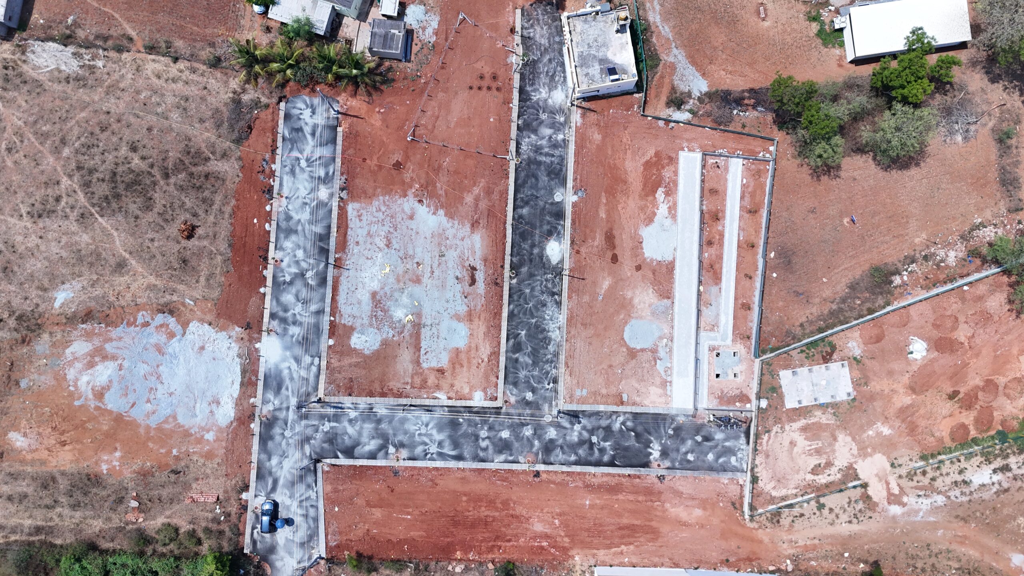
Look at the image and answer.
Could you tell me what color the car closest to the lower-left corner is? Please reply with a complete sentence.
The car closest to the lower-left corner is blue.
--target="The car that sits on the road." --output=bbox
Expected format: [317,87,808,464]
[257,498,278,535]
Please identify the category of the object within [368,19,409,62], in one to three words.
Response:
shed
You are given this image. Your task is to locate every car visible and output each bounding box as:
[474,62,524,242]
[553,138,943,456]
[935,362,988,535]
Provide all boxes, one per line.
[257,498,278,535]
[253,0,270,14]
